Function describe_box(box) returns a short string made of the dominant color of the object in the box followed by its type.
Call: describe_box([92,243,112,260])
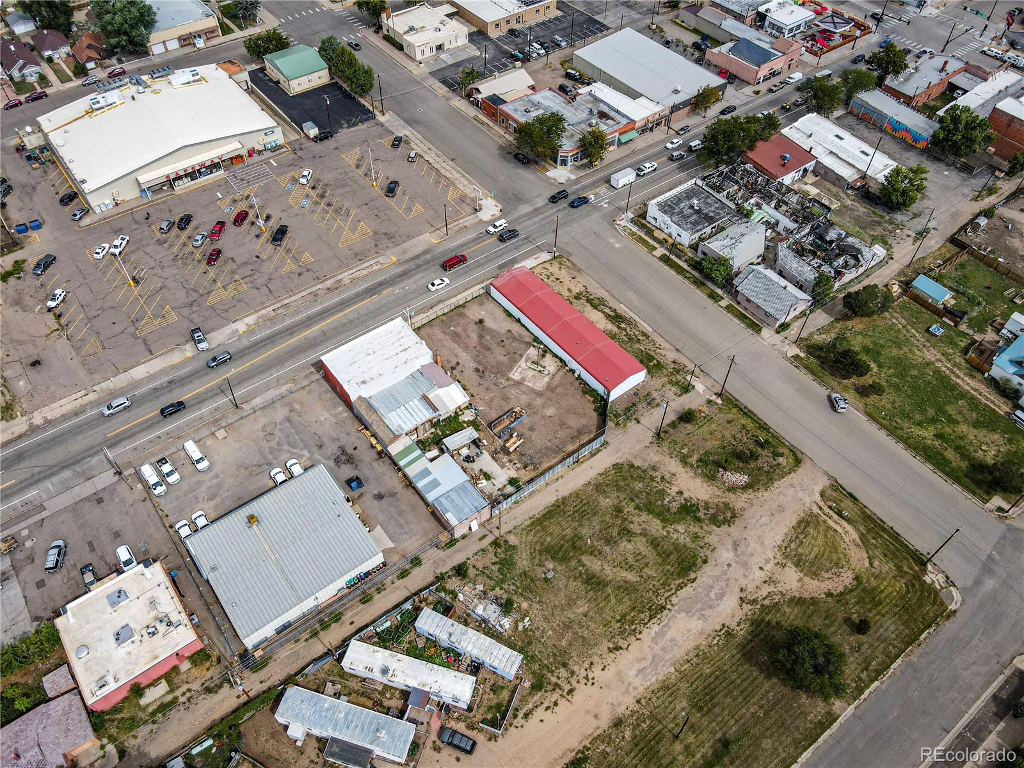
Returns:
white car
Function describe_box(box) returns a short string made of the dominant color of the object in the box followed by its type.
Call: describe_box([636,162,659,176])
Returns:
white vehicle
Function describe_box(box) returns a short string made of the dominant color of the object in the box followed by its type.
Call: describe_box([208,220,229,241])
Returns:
red truck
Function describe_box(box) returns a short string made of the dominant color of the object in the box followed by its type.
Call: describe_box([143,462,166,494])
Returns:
white truck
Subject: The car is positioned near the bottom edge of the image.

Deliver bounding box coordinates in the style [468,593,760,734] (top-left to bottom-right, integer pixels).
[438,726,478,755]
